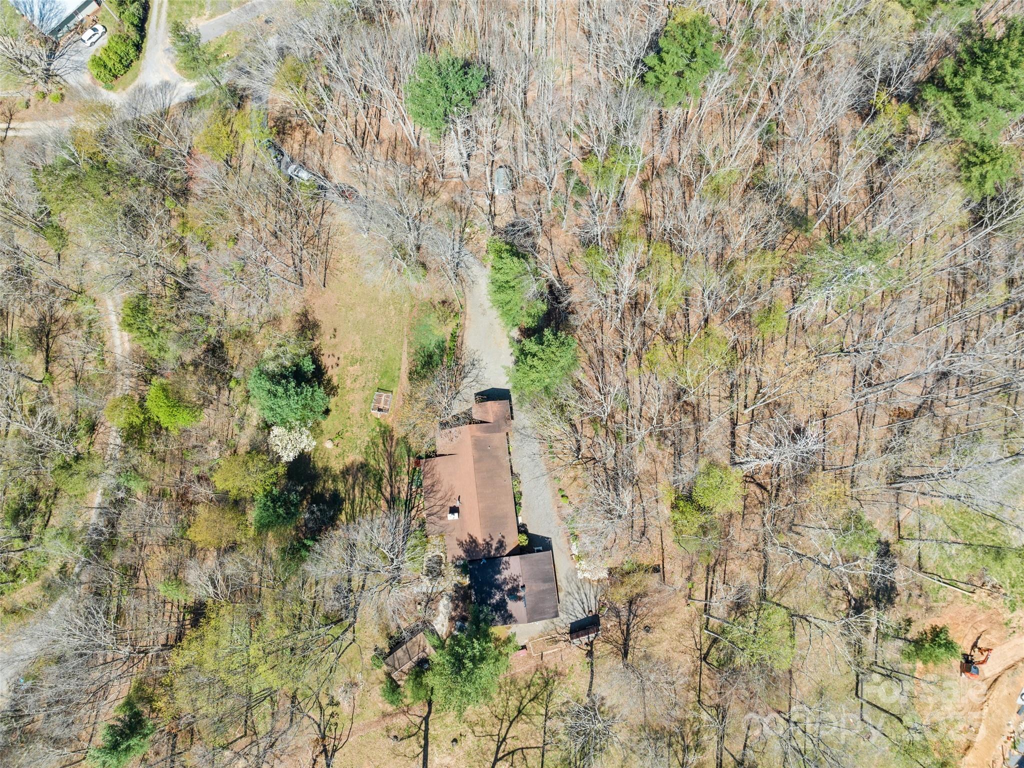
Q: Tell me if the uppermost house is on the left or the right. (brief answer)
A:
left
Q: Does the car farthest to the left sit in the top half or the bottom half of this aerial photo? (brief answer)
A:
top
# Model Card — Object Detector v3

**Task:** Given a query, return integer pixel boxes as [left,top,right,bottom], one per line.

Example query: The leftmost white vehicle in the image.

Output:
[76,23,108,48]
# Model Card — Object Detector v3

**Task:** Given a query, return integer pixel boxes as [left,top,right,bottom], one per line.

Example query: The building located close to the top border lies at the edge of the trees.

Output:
[13,0,120,45]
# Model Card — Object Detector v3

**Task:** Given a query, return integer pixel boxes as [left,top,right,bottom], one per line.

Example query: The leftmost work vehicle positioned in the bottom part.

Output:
[958,644,993,679]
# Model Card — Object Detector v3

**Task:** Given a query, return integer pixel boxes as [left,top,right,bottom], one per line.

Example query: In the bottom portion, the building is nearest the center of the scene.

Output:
[421,400,522,562]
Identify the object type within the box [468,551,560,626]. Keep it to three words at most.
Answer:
building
